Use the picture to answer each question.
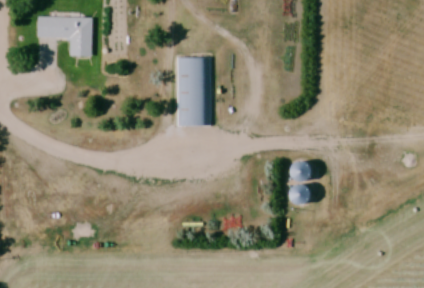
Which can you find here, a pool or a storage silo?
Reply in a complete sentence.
I can see a storage silo in this picture.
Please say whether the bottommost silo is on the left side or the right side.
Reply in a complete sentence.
The bottommost silo appears in the right half of the scene.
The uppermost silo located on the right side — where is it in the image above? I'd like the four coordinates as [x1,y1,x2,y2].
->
[289,159,313,182]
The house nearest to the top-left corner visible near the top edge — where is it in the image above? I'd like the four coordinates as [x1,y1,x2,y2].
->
[36,11,95,64]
